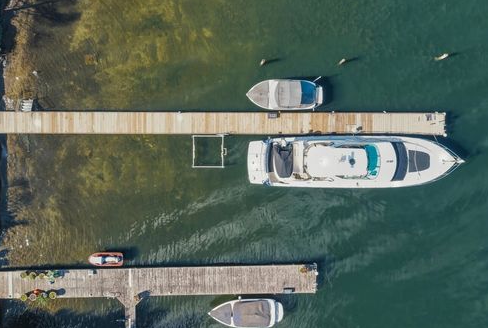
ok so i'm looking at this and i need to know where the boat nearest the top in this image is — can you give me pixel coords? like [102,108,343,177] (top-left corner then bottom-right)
[245,75,322,111]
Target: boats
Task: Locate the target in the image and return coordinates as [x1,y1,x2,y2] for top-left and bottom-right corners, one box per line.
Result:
[88,252,124,266]
[207,298,284,328]
[245,75,322,111]
[247,135,469,188]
